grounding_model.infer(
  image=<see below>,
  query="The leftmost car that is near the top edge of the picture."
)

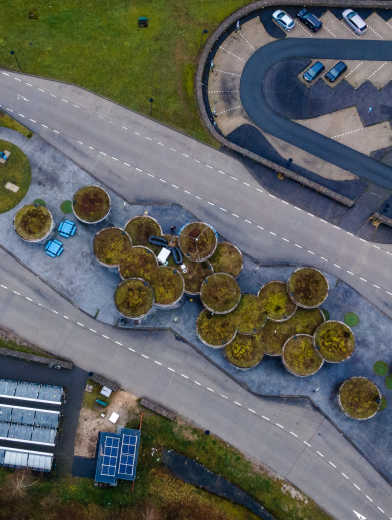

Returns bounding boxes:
[272,7,296,30]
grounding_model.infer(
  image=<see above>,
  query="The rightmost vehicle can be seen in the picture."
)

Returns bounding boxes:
[343,8,370,33]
